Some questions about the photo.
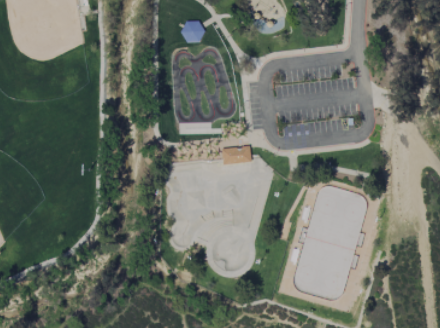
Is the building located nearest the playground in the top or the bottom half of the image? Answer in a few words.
top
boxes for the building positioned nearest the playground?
[181,20,206,42]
